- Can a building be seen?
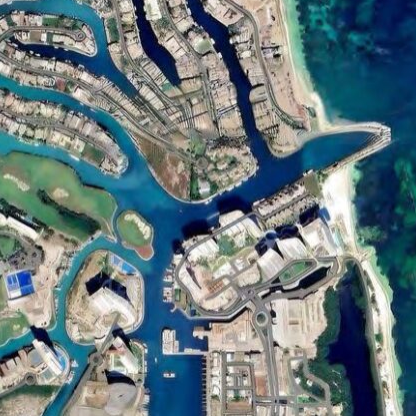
Yes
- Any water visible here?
Yes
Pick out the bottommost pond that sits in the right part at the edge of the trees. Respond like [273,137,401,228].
[325,263,378,416]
